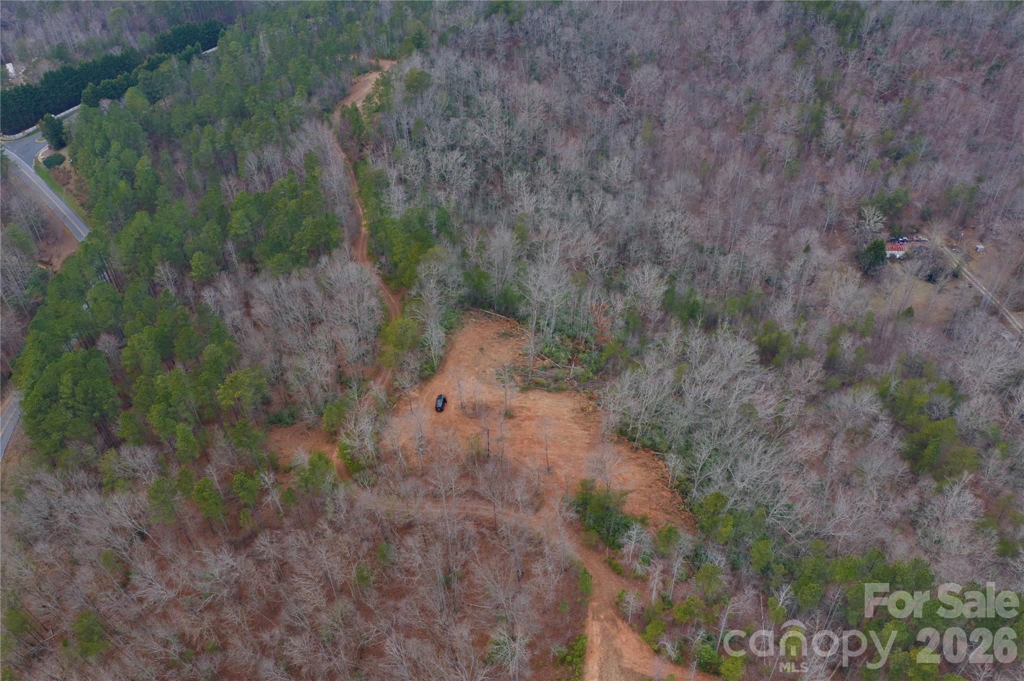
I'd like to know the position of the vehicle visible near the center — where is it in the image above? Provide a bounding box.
[435,395,449,412]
